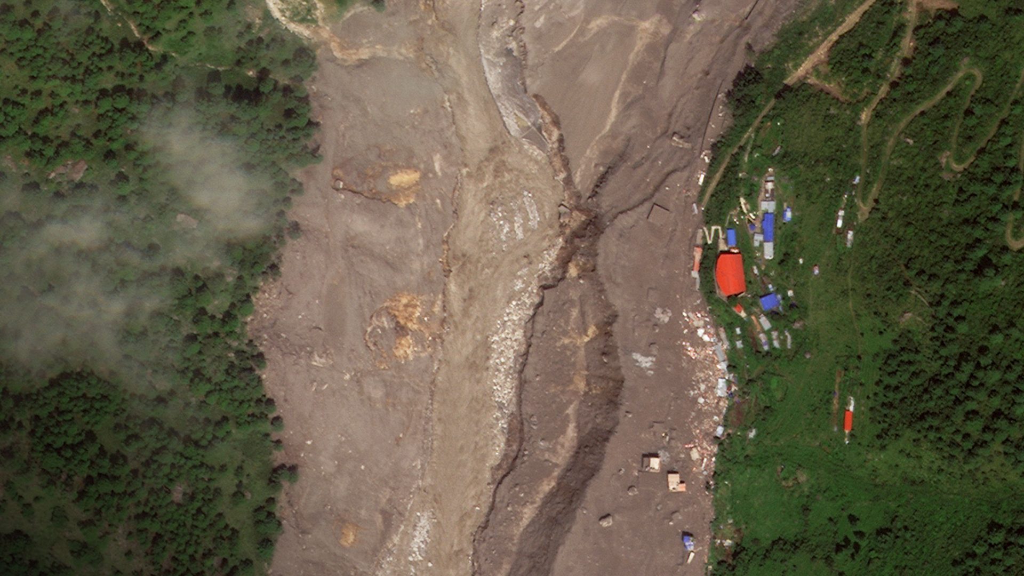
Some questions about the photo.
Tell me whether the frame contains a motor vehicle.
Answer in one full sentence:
No, I find no motor vehicle anywhere in the image.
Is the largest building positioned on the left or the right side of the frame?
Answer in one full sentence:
You can find the largest building on the right side of the picture.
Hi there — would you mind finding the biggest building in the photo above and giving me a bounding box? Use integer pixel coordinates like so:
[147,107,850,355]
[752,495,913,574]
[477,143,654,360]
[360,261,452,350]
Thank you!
[716,254,746,296]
